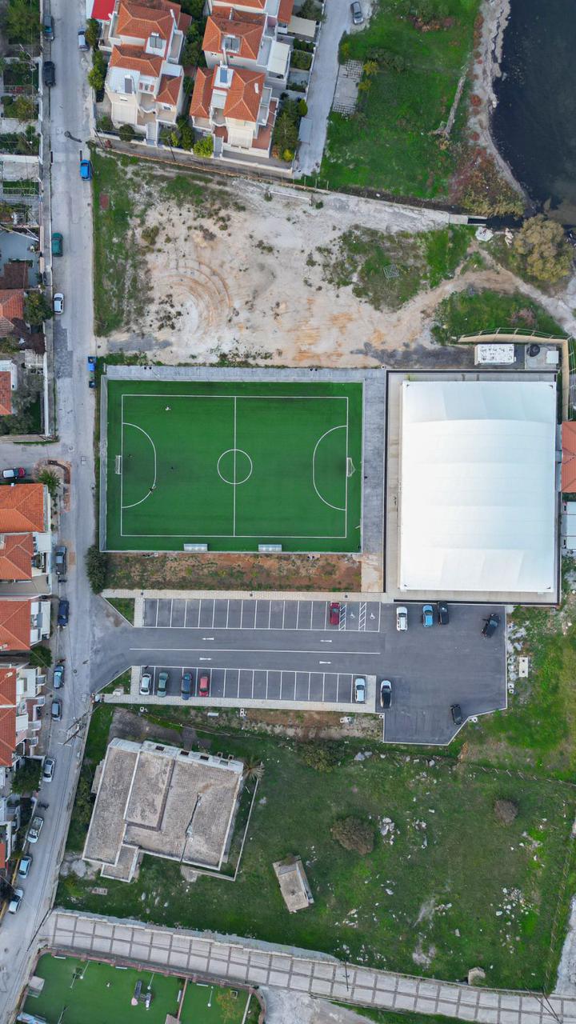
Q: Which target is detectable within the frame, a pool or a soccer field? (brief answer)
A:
soccer field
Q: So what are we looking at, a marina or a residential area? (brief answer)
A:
residential area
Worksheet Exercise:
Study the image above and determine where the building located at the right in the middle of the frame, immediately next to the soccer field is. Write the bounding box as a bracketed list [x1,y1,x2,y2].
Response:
[385,369,561,607]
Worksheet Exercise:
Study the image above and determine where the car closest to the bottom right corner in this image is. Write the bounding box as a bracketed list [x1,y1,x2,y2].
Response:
[450,703,463,726]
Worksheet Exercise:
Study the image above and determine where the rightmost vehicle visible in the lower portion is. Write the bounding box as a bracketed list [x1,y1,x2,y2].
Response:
[482,613,499,638]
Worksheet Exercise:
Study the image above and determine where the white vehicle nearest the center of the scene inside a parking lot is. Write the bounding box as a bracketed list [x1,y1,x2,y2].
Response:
[396,605,409,630]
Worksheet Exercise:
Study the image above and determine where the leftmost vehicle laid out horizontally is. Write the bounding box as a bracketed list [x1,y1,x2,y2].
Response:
[2,467,26,479]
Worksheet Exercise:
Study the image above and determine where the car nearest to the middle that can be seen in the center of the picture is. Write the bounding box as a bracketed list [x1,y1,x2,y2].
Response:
[329,601,341,625]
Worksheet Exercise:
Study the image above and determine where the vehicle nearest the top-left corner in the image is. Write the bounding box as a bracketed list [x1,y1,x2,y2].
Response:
[42,14,55,41]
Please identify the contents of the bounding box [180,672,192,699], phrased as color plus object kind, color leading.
blue vehicle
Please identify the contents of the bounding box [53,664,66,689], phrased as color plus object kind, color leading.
blue vehicle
